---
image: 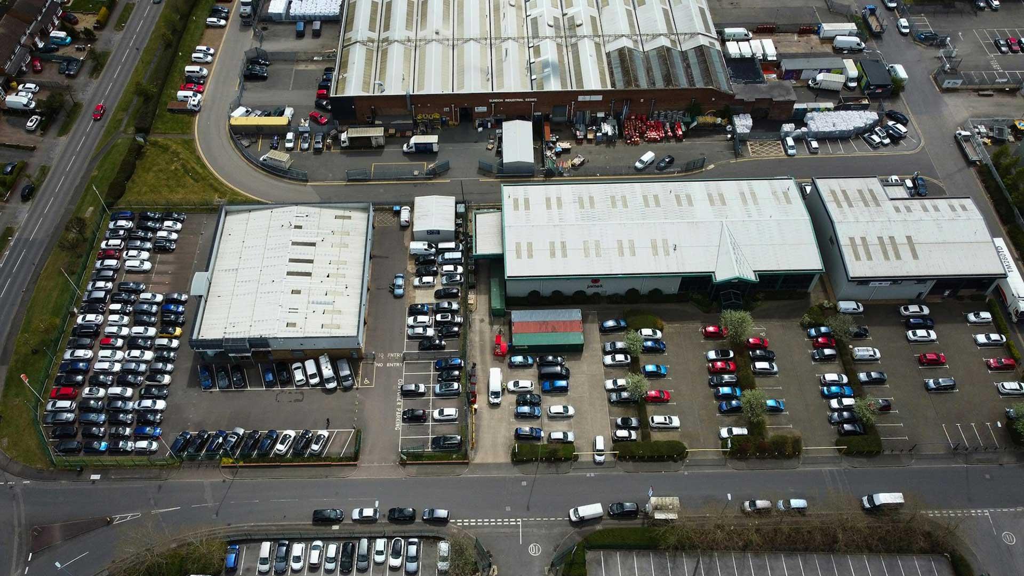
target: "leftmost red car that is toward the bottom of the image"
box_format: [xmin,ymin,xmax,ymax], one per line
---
[51,386,79,400]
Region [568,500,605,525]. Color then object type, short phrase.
white vehicle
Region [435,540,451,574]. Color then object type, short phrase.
gray car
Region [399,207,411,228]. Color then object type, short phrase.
white vehicle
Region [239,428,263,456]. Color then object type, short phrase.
black car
